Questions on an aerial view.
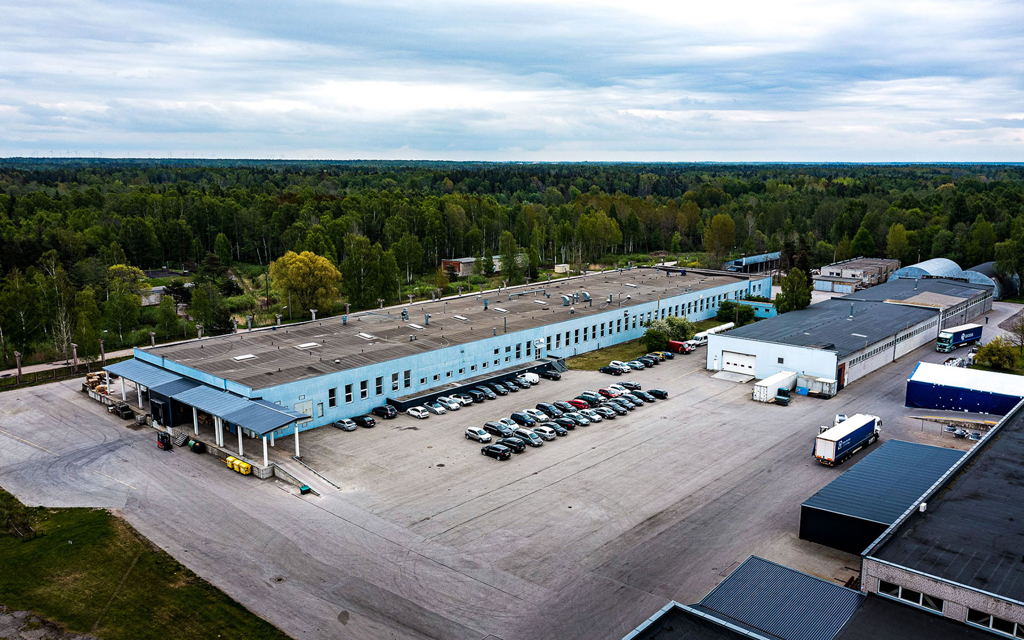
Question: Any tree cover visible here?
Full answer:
Yes, tree cover shows up in the scene.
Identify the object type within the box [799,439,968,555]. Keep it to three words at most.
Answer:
shed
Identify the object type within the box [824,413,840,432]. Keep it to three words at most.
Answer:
work vehicle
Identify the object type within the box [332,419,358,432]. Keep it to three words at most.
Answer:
vehicle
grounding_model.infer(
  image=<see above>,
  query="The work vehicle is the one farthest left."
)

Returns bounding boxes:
[156,433,178,450]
